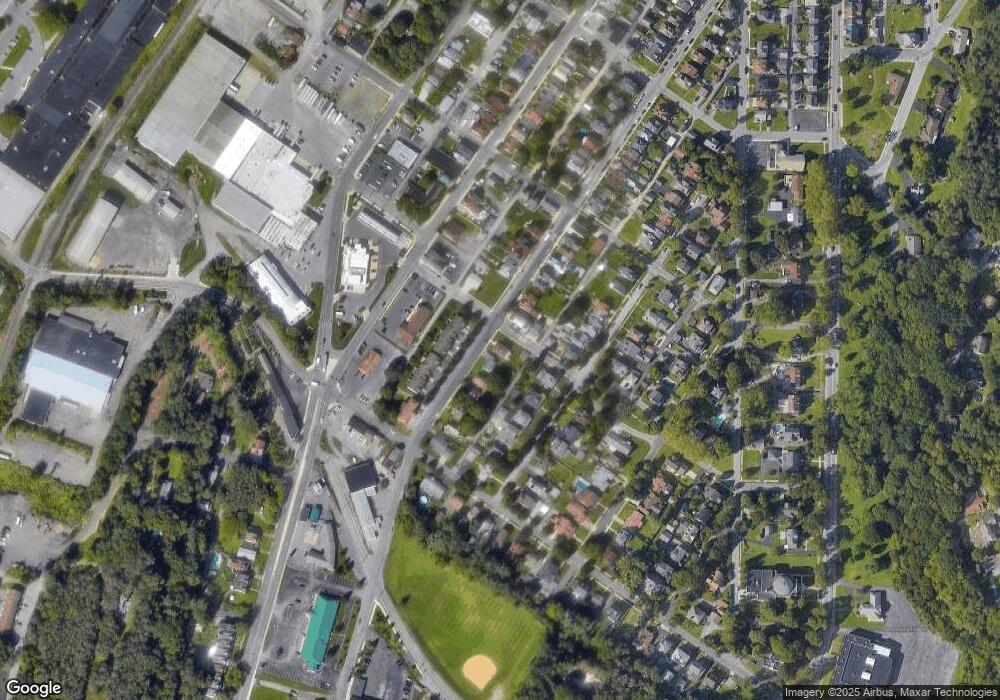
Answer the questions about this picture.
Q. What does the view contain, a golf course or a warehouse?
warehouse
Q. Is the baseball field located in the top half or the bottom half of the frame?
bottom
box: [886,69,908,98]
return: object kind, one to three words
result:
house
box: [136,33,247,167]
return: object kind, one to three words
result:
warehouse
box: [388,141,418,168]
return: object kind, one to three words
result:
building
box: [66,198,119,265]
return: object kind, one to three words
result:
shed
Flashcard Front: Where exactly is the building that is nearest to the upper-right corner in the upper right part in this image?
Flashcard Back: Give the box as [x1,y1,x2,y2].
[950,26,970,58]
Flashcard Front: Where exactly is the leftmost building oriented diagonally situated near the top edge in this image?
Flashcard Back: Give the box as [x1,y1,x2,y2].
[0,0,176,193]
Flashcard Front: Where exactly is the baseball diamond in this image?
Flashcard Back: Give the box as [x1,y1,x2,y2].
[382,504,546,700]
